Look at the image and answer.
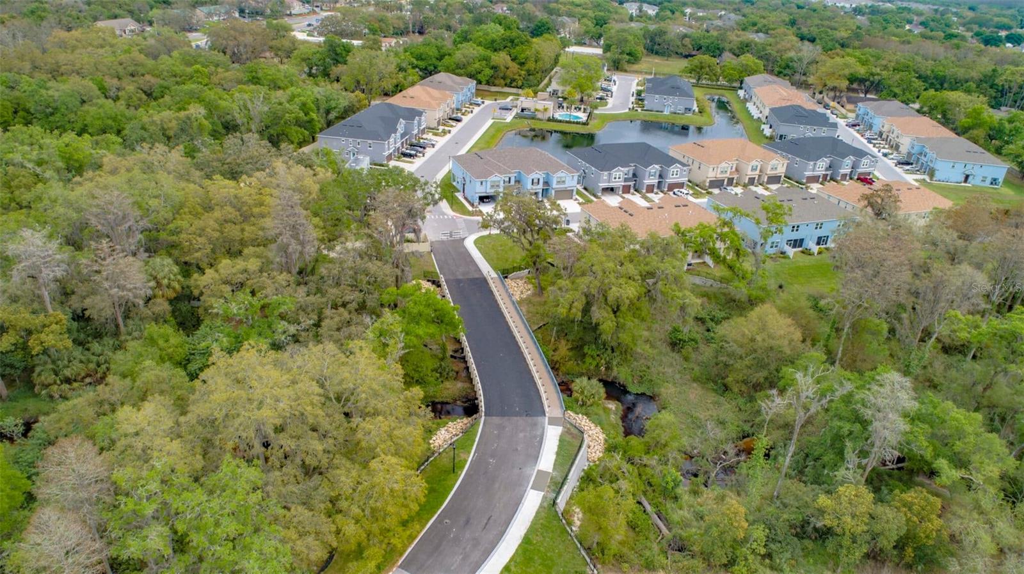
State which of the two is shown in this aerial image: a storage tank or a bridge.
bridge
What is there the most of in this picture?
trees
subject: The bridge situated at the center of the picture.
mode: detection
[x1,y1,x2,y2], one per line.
[442,271,566,422]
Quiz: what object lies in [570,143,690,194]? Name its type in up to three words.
house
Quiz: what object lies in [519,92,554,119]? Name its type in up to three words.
building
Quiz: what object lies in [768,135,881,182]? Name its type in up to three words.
house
